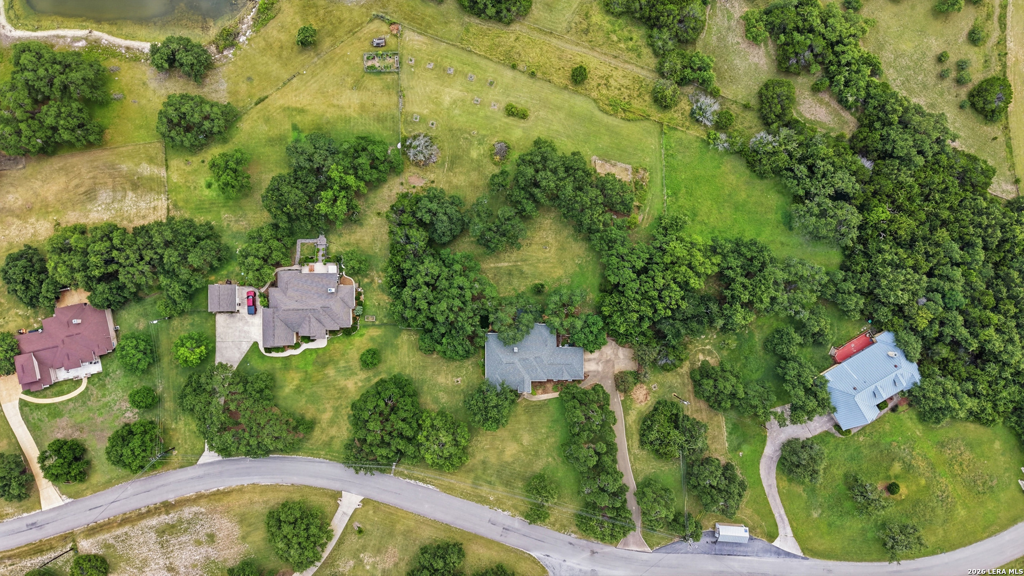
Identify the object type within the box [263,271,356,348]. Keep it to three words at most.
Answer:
house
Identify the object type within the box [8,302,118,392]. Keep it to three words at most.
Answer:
house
